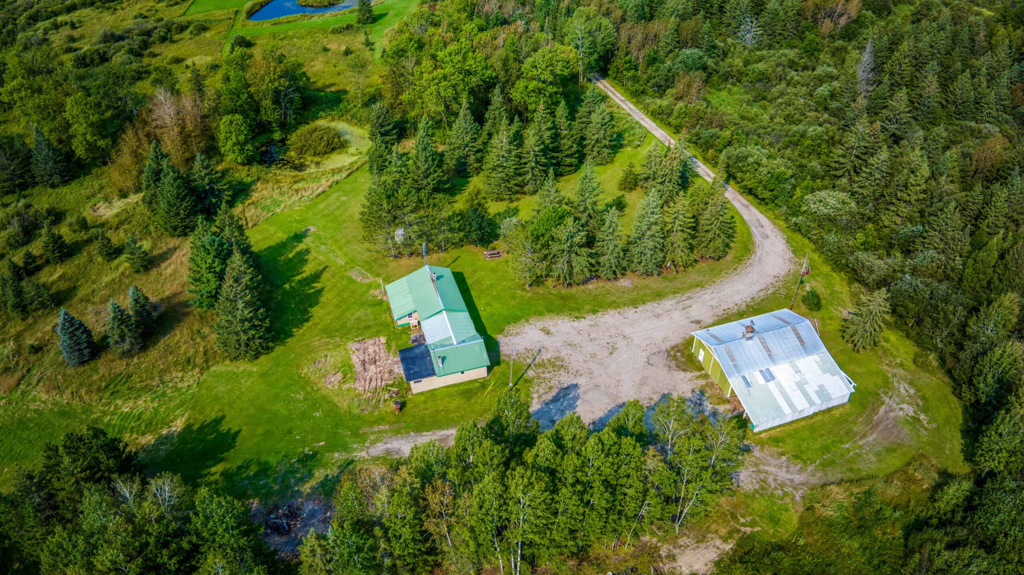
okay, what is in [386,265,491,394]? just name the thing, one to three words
house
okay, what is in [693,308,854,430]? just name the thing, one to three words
barn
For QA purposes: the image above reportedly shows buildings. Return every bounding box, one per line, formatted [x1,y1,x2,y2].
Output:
[386,265,491,394]
[693,308,854,430]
